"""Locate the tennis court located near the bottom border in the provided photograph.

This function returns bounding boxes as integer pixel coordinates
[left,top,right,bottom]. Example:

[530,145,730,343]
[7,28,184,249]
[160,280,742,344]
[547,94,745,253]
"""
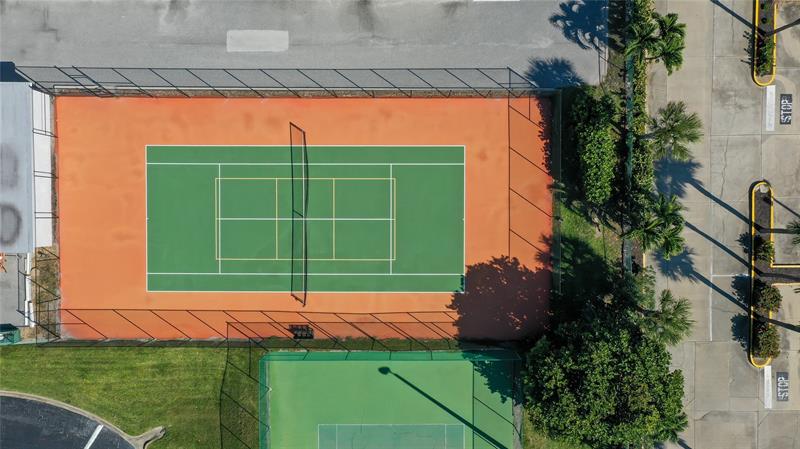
[269,351,514,449]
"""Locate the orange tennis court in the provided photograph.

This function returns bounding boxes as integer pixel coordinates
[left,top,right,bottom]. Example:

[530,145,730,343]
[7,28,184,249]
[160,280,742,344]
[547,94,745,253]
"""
[56,96,553,339]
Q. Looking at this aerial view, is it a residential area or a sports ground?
sports ground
